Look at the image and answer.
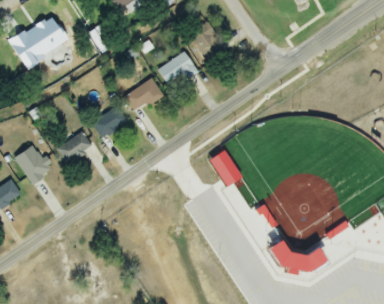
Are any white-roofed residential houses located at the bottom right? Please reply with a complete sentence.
No, the scene shows no white-roofed residential house at the bottom right.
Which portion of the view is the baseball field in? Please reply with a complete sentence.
The baseball field sits in the right section of the image.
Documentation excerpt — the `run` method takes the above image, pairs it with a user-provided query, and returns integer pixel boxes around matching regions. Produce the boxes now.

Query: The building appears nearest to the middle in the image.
[210,149,244,188]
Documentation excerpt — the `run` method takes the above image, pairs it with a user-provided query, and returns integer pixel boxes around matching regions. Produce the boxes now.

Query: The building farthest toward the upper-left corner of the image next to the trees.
[8,17,64,68]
